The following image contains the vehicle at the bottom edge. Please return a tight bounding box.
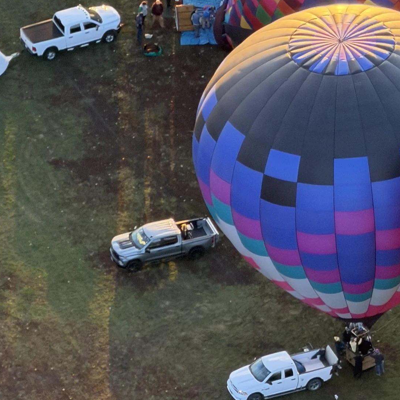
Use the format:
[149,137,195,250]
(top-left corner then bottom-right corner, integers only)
[228,349,336,400]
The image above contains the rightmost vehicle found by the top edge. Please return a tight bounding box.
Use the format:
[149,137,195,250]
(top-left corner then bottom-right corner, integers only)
[18,10,122,61]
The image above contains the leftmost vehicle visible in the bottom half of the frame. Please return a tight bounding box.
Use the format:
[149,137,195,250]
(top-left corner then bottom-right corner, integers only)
[110,217,217,273]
